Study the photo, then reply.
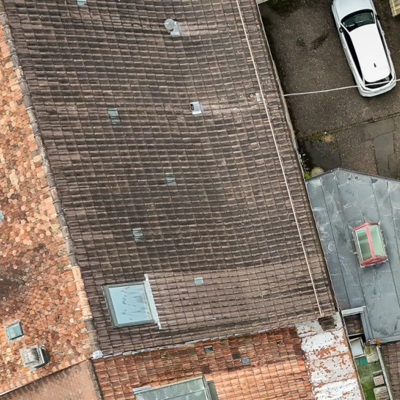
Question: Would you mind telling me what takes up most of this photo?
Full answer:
What you mostly see from above here is buildings.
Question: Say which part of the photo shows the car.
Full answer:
The car is located in the top right region of the scene.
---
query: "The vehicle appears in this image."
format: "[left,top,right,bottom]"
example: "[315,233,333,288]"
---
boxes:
[334,0,397,98]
